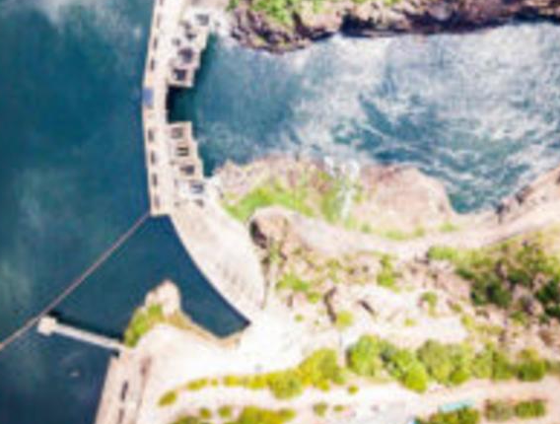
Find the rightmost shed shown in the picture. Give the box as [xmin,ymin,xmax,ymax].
[442,399,478,415]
